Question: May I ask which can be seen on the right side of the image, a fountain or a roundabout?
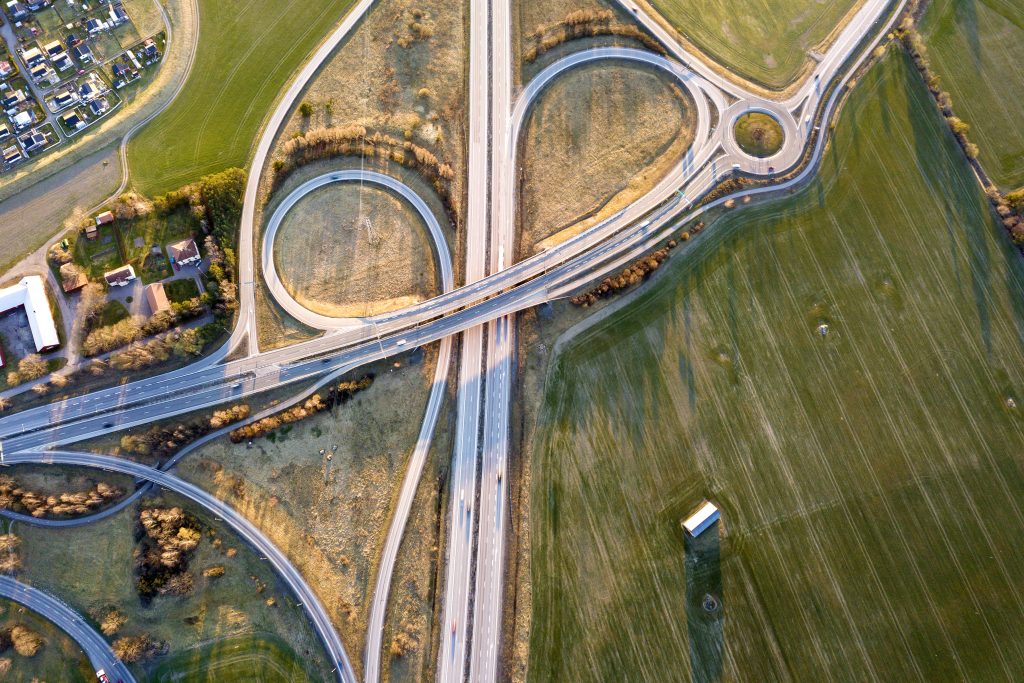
roundabout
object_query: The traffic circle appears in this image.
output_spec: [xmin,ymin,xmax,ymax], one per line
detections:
[717,100,801,171]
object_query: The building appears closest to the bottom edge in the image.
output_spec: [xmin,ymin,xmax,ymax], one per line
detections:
[680,502,718,536]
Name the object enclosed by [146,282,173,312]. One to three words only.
barn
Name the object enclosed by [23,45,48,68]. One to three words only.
house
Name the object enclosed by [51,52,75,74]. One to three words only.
house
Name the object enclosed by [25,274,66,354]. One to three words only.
barn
